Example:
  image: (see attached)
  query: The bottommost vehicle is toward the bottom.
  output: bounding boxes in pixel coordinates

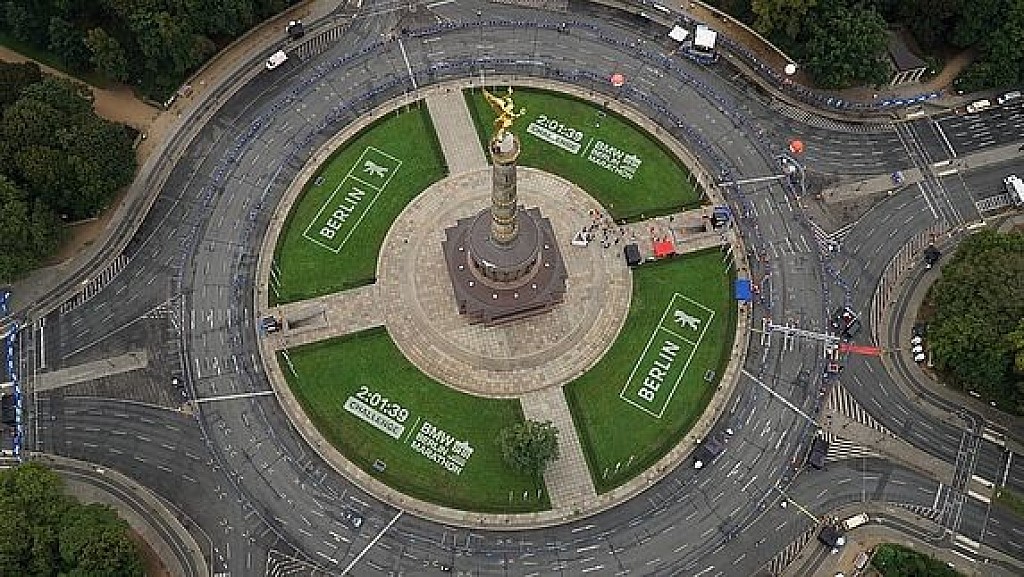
[851,549,871,571]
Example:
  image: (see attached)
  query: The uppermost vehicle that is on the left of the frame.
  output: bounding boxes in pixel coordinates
[286,24,306,39]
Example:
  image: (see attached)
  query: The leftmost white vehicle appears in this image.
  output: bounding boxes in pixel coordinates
[265,50,289,71]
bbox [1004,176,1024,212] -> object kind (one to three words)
vehicle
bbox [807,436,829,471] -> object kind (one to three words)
vehicle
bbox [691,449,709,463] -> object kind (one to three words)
car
